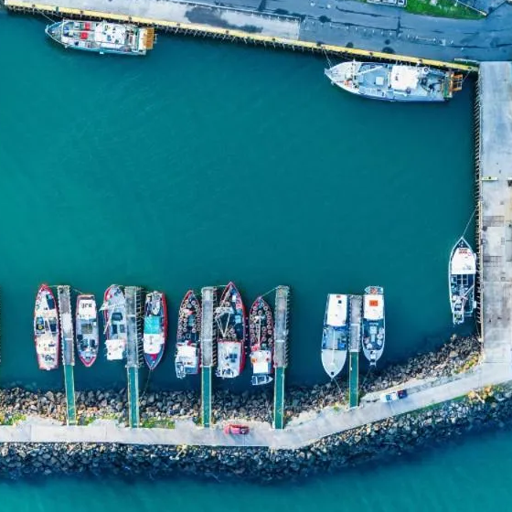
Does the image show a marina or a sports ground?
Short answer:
marina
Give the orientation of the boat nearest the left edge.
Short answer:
from top to bottom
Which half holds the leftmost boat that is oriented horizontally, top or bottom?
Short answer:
top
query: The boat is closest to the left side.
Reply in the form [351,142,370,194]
[34,284,60,371]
